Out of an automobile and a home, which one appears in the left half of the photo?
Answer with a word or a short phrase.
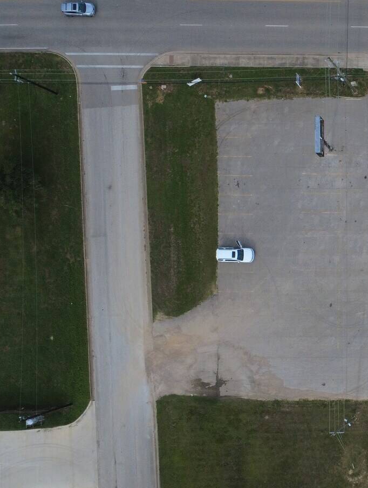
automobile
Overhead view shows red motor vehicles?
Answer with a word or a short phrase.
No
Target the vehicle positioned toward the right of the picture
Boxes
[216,241,255,263]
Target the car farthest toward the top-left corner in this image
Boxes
[59,1,97,17]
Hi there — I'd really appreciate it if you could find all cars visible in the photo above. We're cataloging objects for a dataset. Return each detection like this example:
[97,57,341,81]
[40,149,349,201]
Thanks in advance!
[59,1,97,17]
[216,241,255,263]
